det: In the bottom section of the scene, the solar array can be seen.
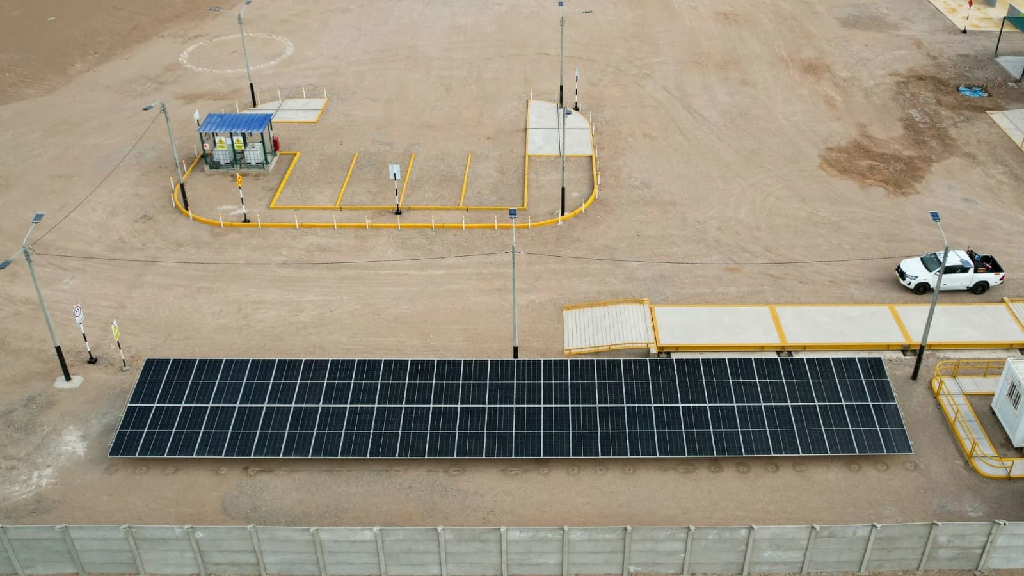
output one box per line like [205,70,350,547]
[110,358,913,457]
